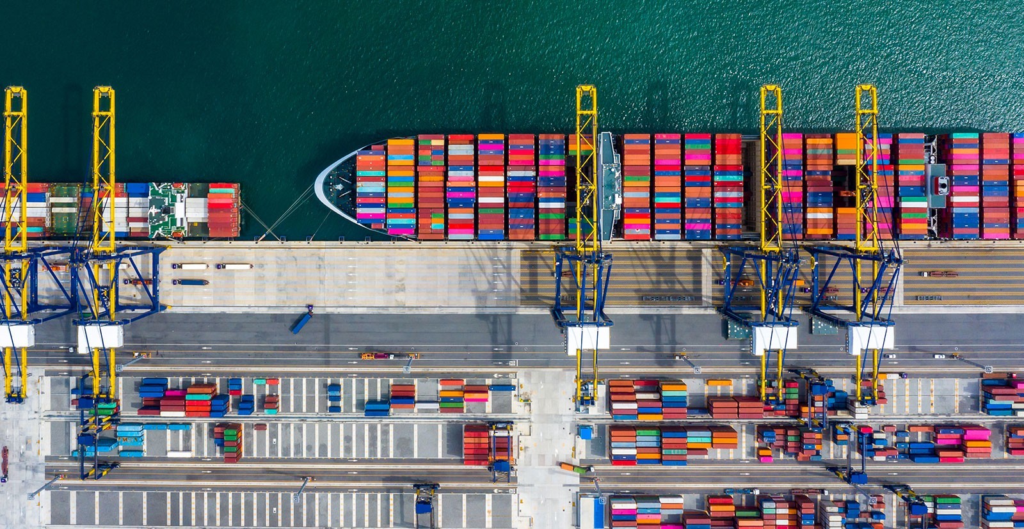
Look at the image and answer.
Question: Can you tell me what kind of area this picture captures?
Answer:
port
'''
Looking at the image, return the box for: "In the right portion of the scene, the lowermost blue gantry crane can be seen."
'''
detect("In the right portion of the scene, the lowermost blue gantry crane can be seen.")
[885,483,929,529]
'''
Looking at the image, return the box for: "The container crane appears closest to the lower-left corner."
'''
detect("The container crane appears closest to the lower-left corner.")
[78,419,123,486]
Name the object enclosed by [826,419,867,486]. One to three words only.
container crane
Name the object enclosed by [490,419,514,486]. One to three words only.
container crane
